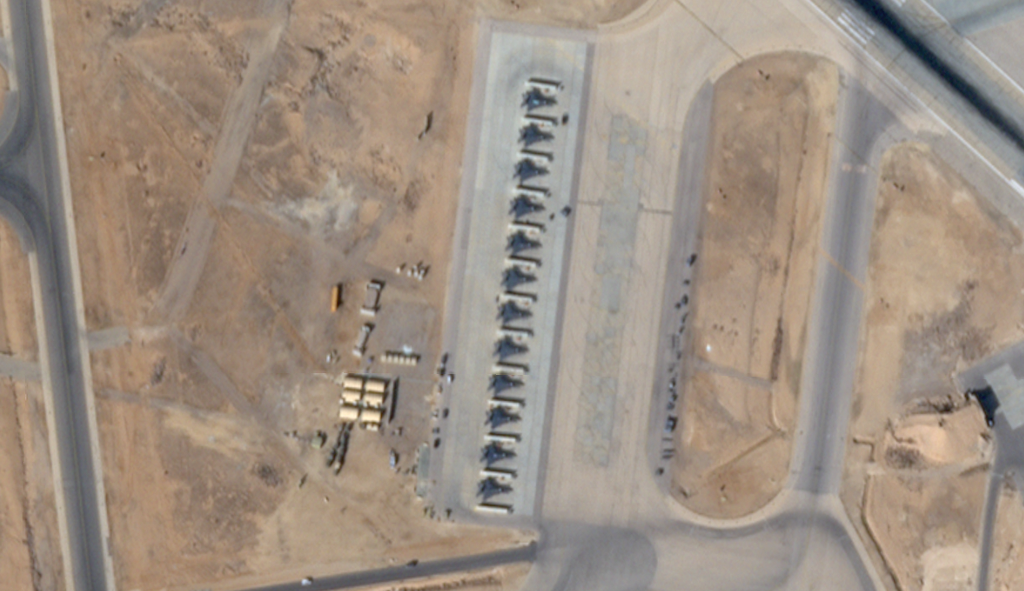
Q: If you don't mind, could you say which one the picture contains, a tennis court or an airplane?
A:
airplane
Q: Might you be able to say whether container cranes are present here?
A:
No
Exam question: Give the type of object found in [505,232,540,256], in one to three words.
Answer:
airplane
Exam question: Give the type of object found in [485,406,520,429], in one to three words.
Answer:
airplane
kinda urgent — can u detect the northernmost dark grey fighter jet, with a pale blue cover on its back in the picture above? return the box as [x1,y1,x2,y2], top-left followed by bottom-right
[521,89,555,113]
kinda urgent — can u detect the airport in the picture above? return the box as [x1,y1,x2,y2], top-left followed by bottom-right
[424,0,1024,591]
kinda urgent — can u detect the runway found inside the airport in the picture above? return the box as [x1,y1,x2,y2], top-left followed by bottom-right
[804,0,1024,197]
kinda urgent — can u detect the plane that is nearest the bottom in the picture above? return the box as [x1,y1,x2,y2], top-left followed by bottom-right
[476,477,511,500]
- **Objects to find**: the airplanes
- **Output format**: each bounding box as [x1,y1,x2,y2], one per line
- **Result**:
[508,195,543,219]
[476,477,511,500]
[493,336,528,360]
[496,301,530,325]
[488,371,523,395]
[518,124,553,148]
[513,159,547,182]
[480,442,515,465]
[501,266,536,290]
[485,406,520,429]
[521,89,555,113]
[505,232,540,256]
